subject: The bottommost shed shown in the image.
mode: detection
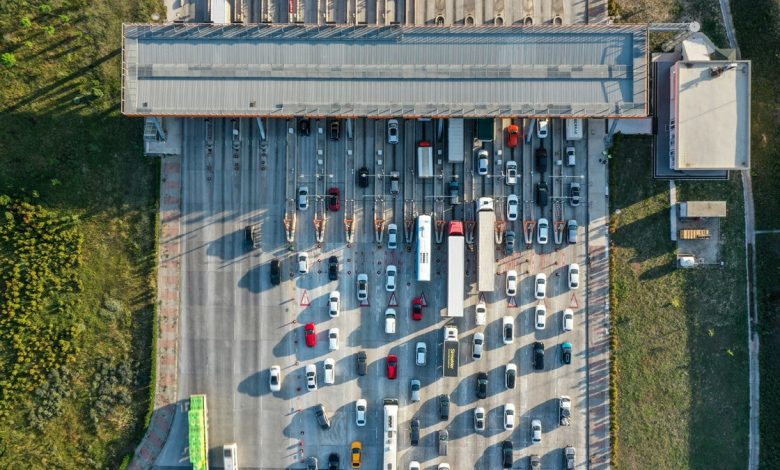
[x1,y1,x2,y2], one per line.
[676,200,727,217]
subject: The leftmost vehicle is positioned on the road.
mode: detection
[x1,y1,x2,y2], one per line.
[189,393,209,470]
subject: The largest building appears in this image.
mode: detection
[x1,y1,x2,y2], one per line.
[654,39,752,180]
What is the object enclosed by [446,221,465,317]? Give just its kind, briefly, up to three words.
vehicle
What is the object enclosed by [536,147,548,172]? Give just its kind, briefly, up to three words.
vehicle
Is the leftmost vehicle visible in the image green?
Yes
